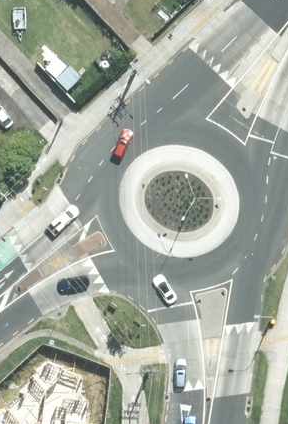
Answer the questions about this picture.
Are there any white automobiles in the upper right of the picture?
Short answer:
No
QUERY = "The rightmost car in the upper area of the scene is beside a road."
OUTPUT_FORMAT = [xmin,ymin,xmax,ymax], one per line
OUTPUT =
[112,127,134,159]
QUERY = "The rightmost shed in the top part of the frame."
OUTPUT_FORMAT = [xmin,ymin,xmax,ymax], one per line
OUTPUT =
[56,65,81,90]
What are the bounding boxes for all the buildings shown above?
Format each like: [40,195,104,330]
[56,65,81,90]
[0,356,95,424]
